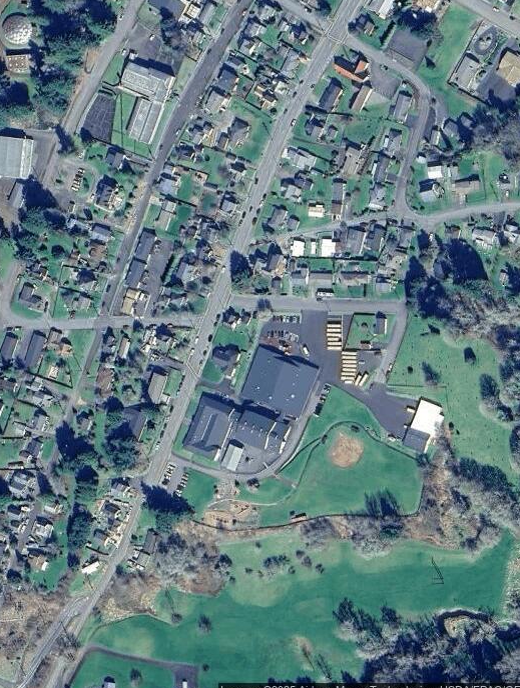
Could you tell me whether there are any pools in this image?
No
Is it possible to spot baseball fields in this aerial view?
Yes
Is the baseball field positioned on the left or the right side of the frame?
right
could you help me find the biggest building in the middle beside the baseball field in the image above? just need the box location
[184,344,323,460]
